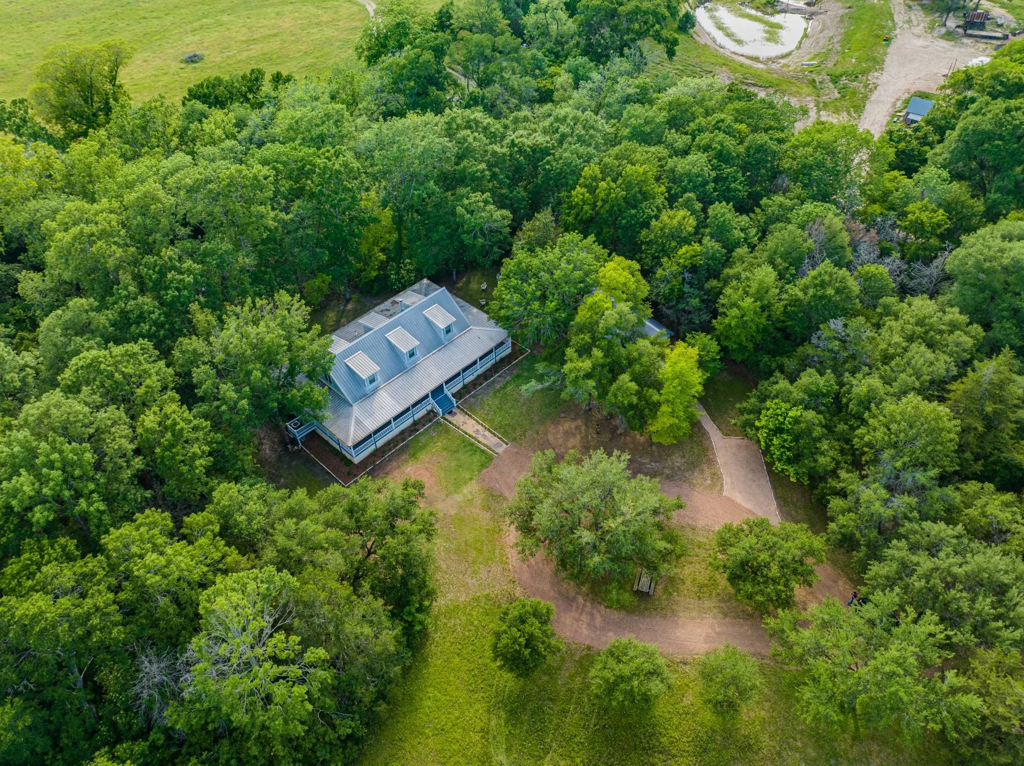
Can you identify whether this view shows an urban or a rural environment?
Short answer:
rural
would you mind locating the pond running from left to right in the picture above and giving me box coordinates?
[697,0,807,57]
